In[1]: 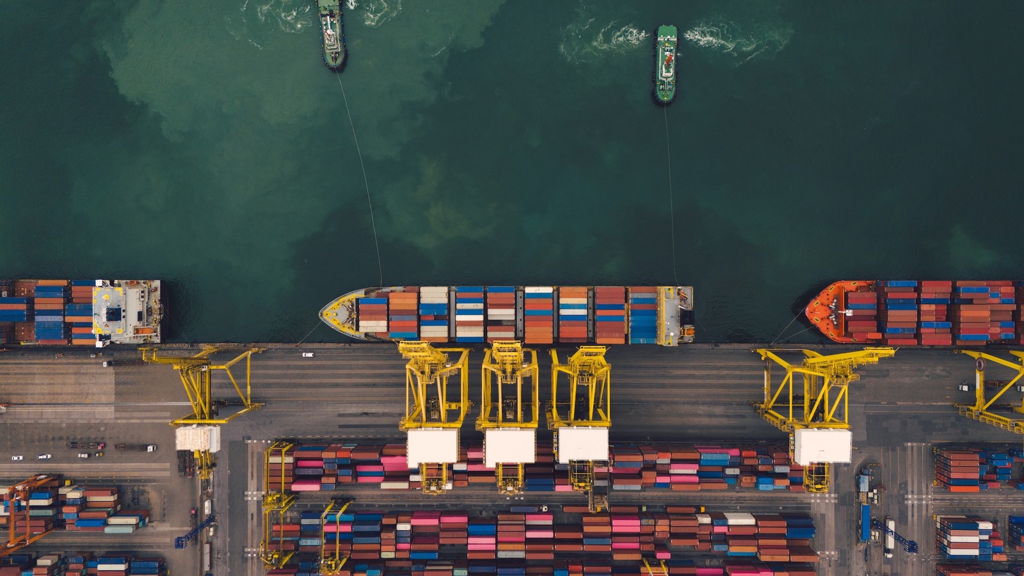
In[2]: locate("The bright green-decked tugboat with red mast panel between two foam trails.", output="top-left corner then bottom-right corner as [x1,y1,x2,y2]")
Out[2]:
[652,25,679,104]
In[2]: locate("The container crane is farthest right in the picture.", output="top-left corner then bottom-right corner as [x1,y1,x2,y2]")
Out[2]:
[949,348,1024,469]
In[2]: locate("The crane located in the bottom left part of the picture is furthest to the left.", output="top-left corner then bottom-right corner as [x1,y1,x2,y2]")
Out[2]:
[10,472,64,545]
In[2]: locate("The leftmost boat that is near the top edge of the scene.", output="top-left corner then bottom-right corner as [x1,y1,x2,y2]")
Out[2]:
[316,0,348,70]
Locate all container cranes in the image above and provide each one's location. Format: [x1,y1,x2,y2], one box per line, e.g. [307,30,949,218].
[639,554,669,576]
[398,342,478,499]
[477,342,545,499]
[949,348,1024,469]
[10,472,64,545]
[541,347,612,512]
[265,436,304,509]
[321,497,356,574]
[135,348,262,477]
[746,343,890,500]
[264,496,303,570]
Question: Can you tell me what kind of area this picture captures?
port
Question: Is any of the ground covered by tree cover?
No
